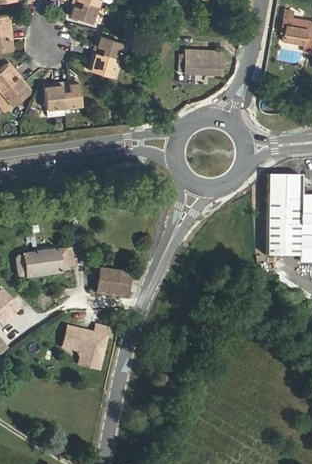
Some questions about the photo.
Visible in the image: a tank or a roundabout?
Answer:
roundabout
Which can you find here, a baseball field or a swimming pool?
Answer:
swimming pool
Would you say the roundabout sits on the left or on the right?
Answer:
right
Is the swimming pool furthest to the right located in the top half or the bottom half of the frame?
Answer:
top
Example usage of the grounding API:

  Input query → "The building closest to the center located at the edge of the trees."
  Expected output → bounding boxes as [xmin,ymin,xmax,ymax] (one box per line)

[97,268,132,298]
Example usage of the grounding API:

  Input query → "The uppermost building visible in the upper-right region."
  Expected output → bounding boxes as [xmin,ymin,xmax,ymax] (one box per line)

[284,10,312,53]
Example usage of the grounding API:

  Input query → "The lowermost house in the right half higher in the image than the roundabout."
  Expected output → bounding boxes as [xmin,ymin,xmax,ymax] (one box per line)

[179,50,224,78]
